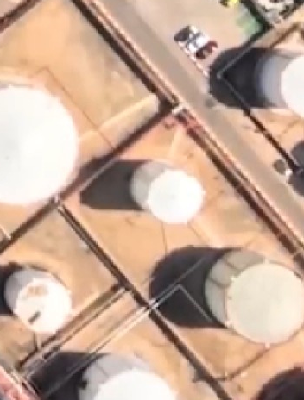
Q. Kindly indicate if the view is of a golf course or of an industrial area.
industrial area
